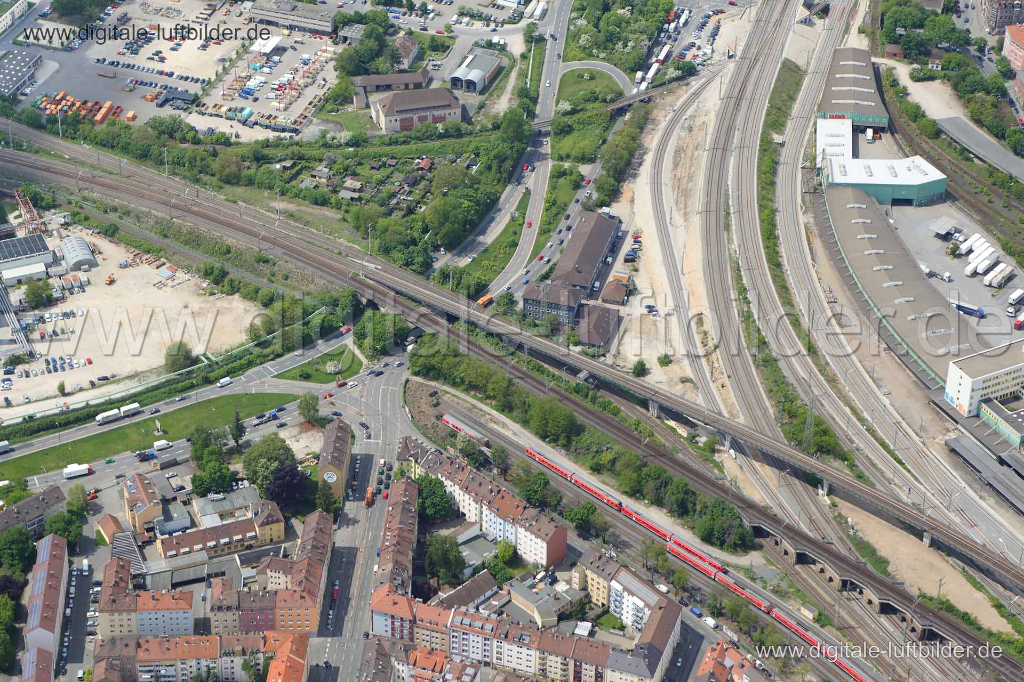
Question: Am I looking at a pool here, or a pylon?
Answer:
pylon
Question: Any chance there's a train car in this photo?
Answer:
Yes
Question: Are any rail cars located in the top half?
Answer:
No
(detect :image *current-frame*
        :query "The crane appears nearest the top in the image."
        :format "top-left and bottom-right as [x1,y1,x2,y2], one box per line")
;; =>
[0,186,42,241]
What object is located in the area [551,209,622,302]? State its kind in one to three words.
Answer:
building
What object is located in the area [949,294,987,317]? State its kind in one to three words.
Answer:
truck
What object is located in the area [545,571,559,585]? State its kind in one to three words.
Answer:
vehicle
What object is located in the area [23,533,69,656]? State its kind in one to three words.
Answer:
house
